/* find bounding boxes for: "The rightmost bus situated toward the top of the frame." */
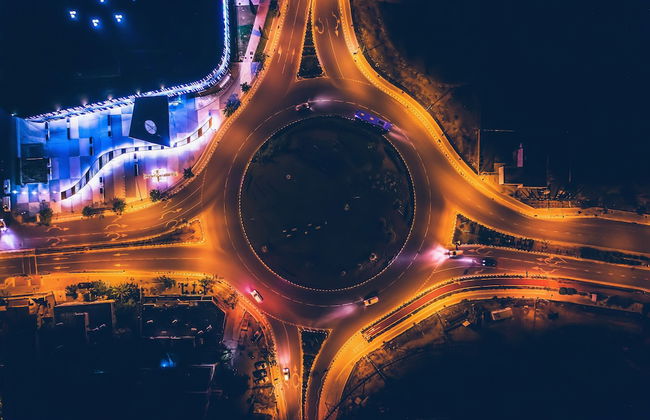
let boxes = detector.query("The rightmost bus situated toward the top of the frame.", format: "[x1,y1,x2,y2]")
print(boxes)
[355,110,392,133]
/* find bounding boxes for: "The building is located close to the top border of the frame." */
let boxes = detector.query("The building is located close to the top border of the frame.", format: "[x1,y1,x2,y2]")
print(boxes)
[0,0,235,126]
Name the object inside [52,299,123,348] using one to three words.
building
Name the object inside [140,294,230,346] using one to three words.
building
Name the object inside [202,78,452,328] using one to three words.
roundabout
